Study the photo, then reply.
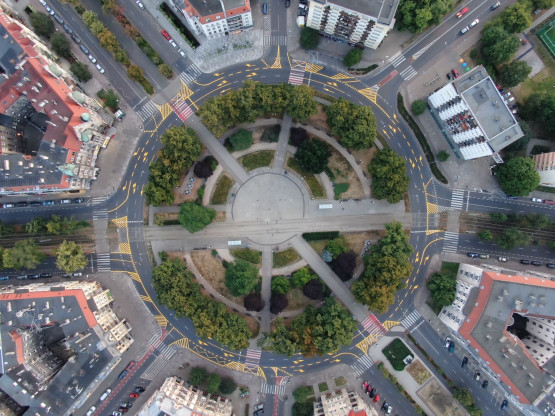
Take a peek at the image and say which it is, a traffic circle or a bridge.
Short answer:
traffic circle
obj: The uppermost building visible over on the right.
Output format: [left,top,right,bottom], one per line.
[306,0,399,48]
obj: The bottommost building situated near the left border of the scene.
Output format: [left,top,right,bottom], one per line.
[0,281,136,416]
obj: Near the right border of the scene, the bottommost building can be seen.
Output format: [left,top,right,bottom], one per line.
[437,263,555,416]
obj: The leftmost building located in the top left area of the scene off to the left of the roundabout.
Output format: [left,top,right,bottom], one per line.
[0,7,114,196]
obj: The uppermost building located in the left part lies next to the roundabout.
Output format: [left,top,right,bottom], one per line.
[173,0,253,39]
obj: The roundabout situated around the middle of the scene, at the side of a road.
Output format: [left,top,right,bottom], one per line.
[107,36,449,382]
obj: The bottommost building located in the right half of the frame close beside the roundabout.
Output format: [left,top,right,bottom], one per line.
[319,387,371,416]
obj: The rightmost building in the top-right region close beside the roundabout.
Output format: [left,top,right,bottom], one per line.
[430,64,525,163]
